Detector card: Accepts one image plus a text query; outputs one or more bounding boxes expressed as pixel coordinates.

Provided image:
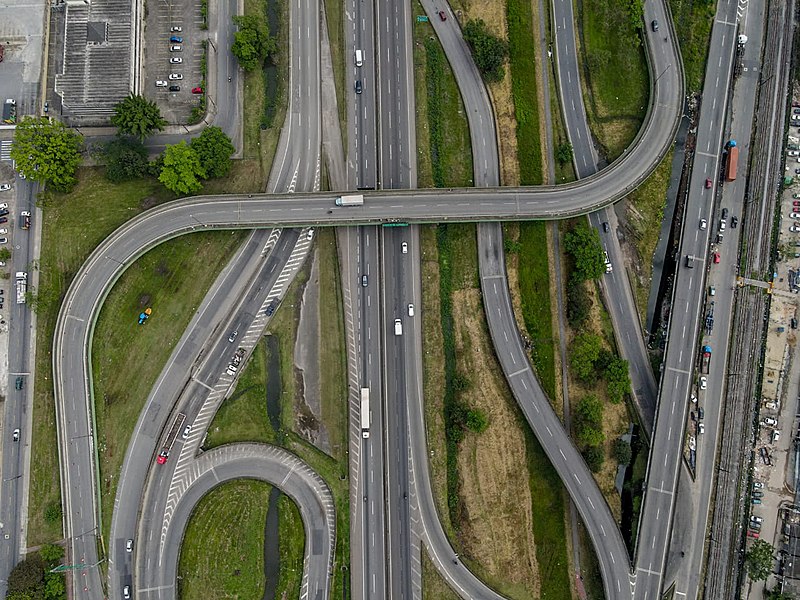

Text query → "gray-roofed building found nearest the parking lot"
[55,0,143,131]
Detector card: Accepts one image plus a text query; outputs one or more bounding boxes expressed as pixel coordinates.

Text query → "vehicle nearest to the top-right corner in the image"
[735,36,748,58]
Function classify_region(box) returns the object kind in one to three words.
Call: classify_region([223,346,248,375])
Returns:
truck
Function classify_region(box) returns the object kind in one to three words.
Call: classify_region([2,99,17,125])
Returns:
vehicle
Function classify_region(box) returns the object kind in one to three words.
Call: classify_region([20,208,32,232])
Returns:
vehicle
